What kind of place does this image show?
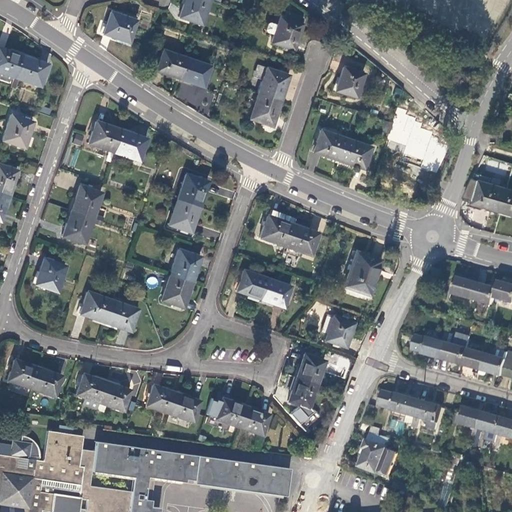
residential area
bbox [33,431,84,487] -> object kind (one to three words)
building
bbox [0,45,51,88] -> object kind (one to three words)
house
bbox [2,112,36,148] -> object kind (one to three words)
house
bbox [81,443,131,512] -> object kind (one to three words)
building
